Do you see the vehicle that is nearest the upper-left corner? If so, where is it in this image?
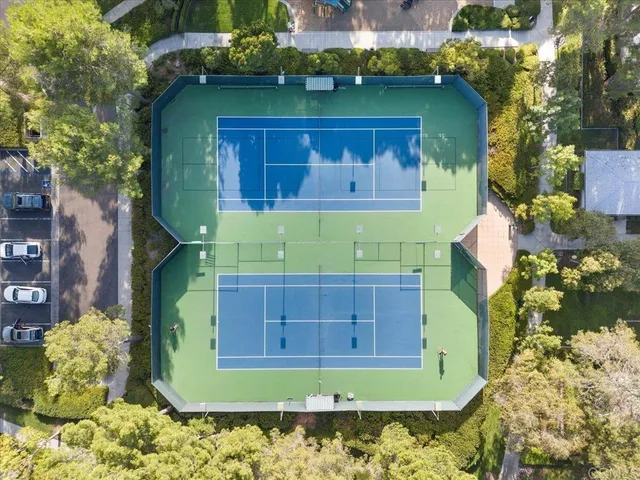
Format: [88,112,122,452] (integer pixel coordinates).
[4,189,51,211]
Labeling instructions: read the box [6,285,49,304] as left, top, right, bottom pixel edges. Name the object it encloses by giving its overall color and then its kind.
white car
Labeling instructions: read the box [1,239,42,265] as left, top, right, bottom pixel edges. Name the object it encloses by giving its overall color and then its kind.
white car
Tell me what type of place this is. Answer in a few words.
sports ground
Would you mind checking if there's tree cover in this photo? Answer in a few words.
Yes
